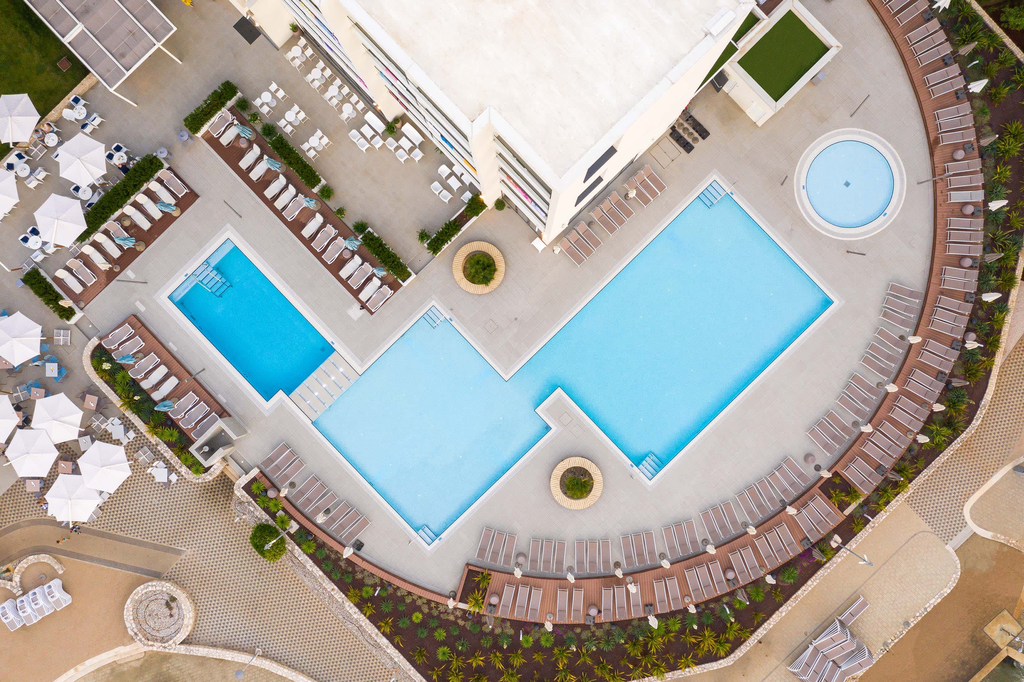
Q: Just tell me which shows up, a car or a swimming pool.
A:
swimming pool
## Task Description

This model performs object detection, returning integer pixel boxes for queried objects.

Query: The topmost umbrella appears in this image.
[922,0,952,22]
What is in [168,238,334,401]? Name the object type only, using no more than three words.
swimming pool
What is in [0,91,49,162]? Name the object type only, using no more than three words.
umbrella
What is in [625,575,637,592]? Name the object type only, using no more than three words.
umbrella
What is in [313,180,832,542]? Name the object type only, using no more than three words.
swimming pool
